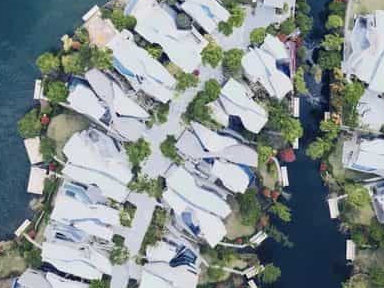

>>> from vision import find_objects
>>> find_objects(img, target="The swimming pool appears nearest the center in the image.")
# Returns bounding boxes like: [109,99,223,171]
[228,114,245,129]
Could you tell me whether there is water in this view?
Yes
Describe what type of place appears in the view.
residential area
